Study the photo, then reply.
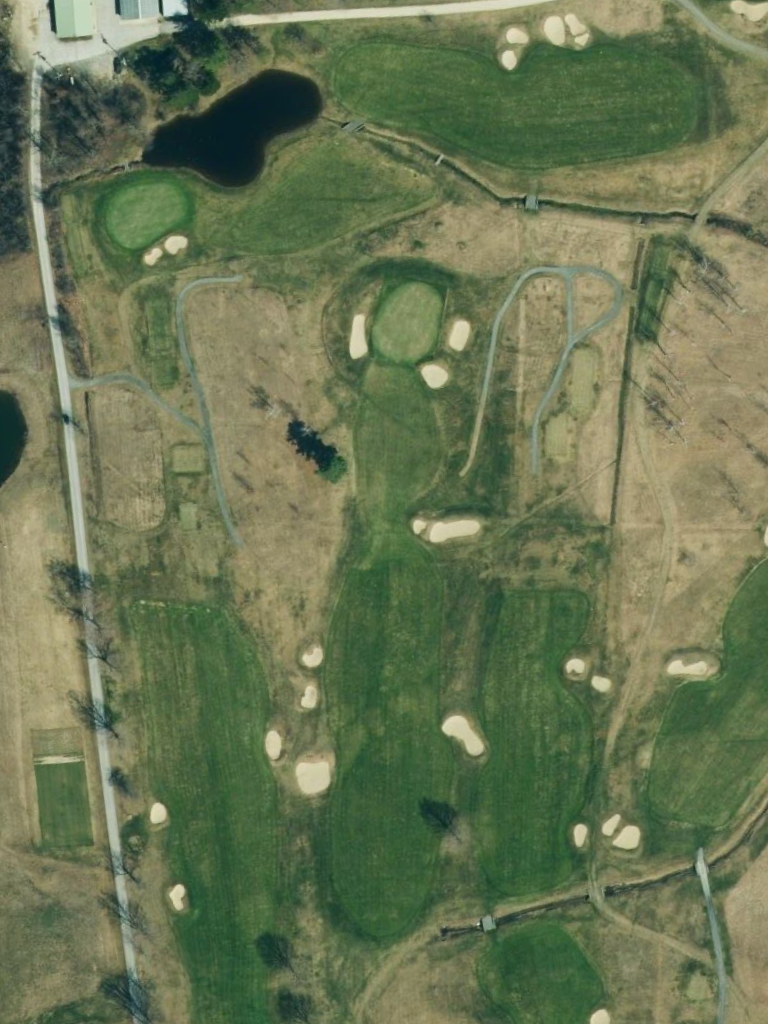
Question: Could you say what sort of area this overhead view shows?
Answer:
golf course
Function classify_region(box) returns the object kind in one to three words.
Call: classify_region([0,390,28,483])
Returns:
pond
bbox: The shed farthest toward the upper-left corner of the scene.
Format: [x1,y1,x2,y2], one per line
[54,0,92,39]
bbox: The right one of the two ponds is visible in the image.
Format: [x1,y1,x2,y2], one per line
[141,68,322,188]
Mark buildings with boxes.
[119,0,158,21]
[54,0,92,39]
[161,0,186,16]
